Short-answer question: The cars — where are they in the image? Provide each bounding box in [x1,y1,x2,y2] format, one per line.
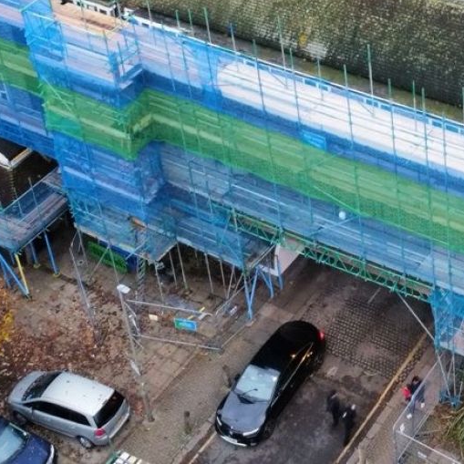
[220,319,335,438]
[0,410,55,464]
[13,357,124,447]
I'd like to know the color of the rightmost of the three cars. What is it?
black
